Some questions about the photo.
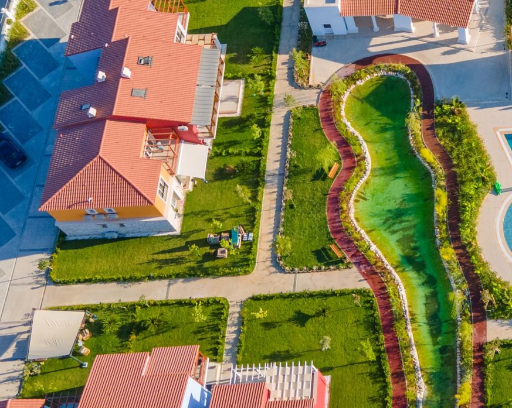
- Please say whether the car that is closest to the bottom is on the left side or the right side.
left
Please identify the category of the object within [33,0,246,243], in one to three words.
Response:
house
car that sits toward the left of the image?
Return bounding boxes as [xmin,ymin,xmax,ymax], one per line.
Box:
[0,130,32,172]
